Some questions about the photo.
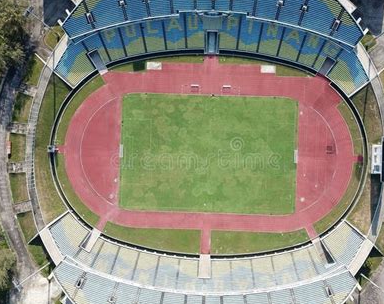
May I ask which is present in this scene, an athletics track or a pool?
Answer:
athletics track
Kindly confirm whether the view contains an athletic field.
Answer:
Yes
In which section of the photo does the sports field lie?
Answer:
center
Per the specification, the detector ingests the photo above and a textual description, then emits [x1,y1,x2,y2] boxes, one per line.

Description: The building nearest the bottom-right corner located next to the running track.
[365,143,382,175]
